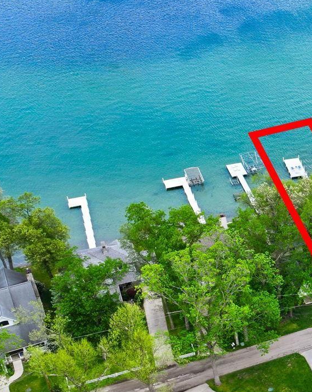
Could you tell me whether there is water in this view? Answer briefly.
Yes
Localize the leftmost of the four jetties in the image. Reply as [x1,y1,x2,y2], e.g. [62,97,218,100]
[65,190,94,241]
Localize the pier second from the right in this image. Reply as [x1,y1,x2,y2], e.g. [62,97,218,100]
[226,163,257,206]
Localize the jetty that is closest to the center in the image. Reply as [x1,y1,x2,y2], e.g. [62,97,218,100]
[162,174,206,224]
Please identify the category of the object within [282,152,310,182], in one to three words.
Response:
pier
